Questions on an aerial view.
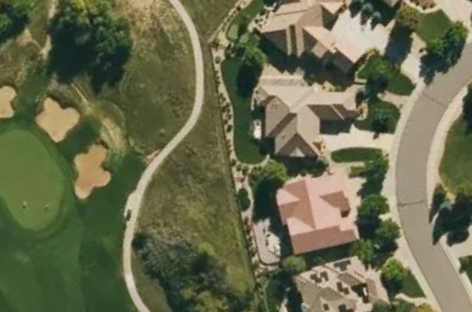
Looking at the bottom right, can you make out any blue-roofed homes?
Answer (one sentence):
No, no blue-roofed home can be made out at the bottom right.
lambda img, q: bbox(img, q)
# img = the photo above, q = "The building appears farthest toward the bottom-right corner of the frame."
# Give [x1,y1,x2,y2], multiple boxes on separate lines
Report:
[296,256,391,312]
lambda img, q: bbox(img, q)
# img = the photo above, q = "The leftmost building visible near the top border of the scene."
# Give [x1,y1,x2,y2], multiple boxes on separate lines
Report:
[257,0,370,71]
